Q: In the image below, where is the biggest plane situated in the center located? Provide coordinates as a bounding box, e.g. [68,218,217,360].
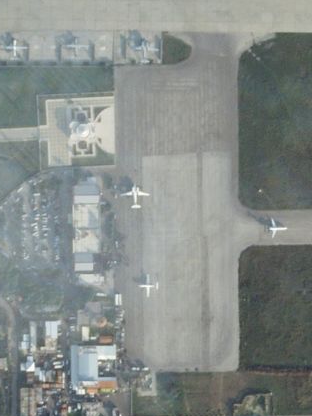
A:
[121,184,149,208]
